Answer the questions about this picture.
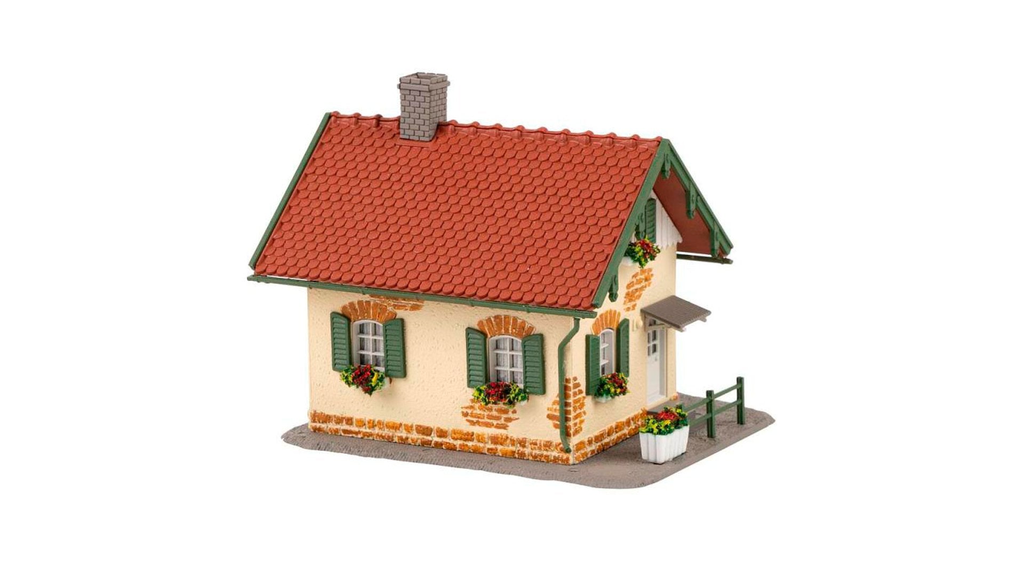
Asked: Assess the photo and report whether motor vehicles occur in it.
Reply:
No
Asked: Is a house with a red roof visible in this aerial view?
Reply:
Yes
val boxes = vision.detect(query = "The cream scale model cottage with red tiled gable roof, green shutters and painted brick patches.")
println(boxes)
[246,74,738,466]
